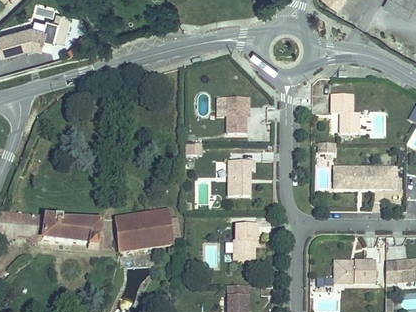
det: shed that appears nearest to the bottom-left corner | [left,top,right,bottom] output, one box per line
[0,212,40,240]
